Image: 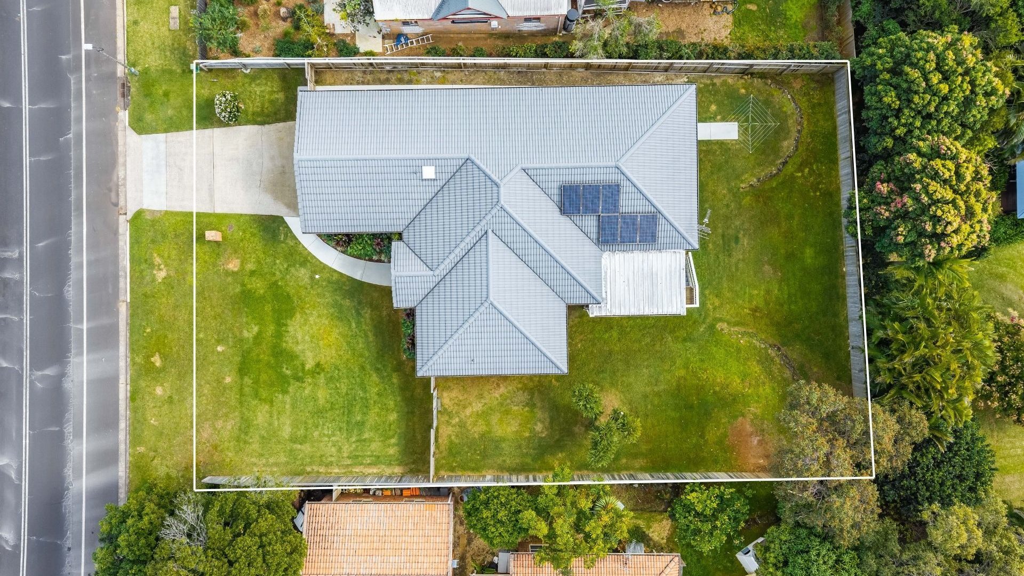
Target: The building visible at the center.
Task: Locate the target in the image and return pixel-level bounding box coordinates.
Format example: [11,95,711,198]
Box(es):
[289,81,701,379]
